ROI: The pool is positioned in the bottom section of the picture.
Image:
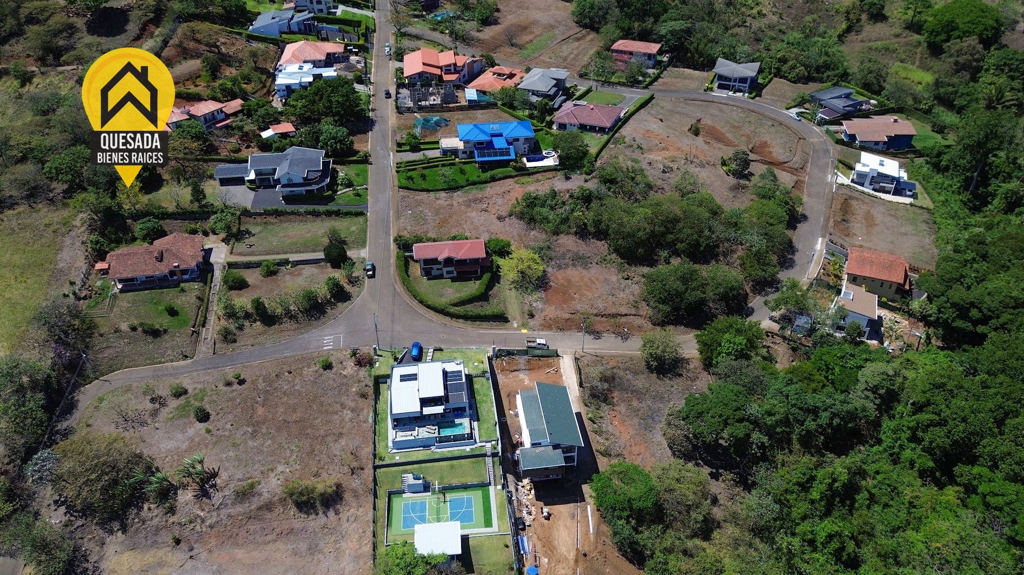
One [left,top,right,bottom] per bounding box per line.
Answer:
[437,420,465,432]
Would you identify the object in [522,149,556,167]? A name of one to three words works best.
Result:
swimming pool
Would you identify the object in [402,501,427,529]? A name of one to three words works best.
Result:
sports court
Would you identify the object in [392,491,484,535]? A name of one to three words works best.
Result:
sports court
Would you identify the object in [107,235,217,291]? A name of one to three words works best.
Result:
house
